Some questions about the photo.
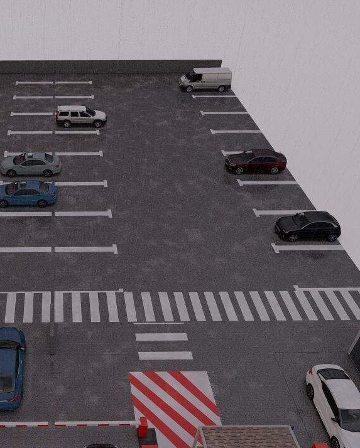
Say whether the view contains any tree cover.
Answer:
No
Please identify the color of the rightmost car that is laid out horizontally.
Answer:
black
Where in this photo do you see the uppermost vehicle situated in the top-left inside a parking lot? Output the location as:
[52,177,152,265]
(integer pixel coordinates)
[58,105,109,127]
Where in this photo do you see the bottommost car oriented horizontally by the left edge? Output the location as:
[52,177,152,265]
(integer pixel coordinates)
[0,180,58,207]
